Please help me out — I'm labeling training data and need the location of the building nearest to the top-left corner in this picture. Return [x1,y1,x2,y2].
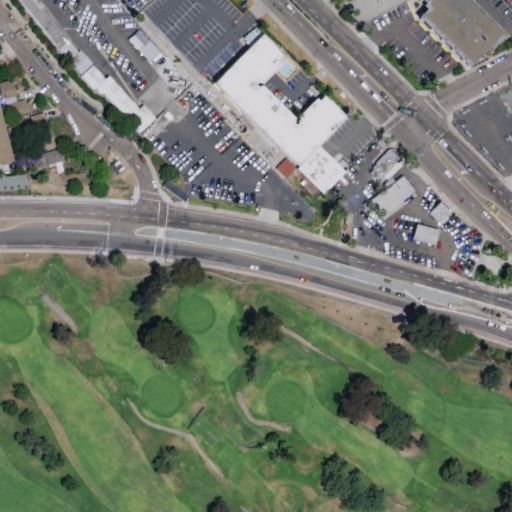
[20,0,72,52]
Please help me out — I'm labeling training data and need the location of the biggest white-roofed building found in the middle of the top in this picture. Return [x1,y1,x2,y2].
[216,34,350,167]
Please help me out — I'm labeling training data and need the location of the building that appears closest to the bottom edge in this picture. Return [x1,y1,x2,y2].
[414,224,441,246]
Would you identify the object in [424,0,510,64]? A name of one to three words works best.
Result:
building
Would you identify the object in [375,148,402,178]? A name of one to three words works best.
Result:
building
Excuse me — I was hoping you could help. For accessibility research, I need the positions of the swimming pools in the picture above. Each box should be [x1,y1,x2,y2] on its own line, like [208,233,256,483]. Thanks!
[277,58,299,81]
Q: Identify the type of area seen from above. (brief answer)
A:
golf course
